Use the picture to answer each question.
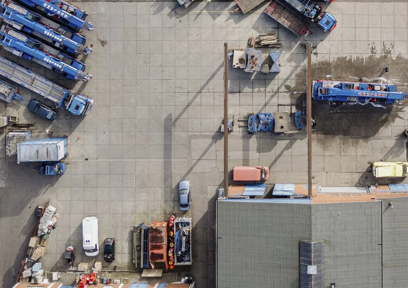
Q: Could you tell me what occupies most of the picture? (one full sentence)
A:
Most of the picture is covered by paved ground.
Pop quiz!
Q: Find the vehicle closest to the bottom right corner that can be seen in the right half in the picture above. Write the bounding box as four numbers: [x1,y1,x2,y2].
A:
[373,162,408,178]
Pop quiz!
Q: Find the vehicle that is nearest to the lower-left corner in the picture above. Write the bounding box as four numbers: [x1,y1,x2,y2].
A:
[63,243,76,268]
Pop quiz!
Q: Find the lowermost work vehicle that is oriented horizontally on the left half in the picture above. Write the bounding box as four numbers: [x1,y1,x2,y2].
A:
[39,162,69,174]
